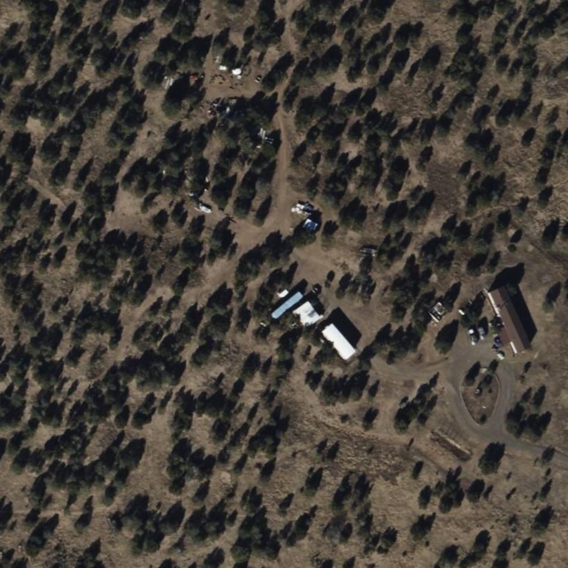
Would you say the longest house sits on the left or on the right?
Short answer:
right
